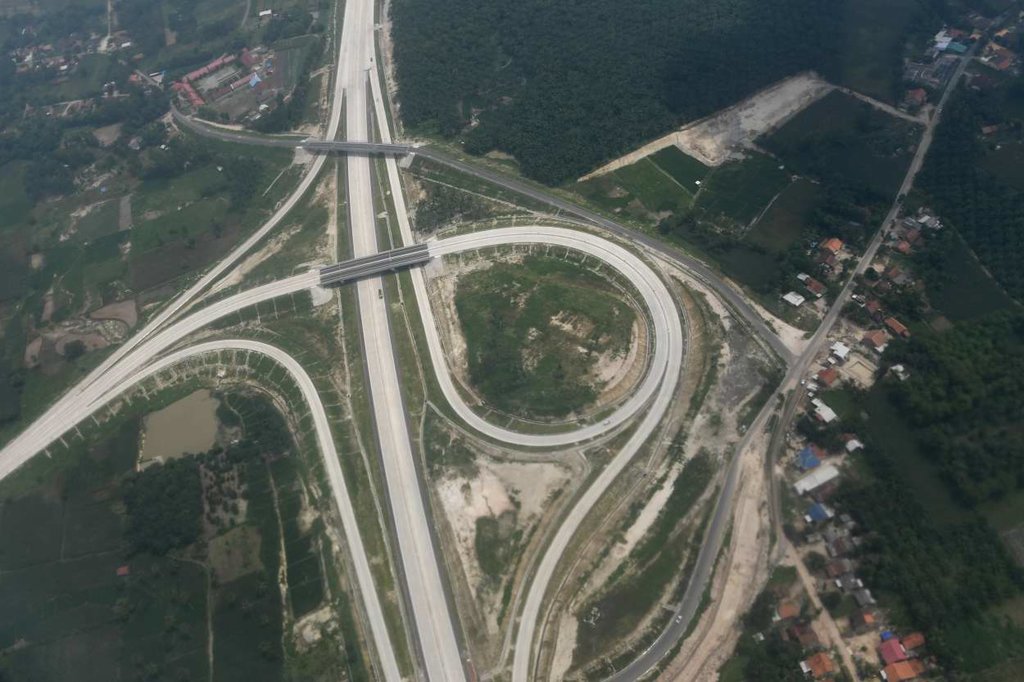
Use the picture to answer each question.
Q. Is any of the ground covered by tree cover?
Yes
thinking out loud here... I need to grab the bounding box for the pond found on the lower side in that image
[139,388,219,467]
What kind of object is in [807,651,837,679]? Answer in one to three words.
house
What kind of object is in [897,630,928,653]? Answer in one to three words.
house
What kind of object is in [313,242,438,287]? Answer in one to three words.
overpass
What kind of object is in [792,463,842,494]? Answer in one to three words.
building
